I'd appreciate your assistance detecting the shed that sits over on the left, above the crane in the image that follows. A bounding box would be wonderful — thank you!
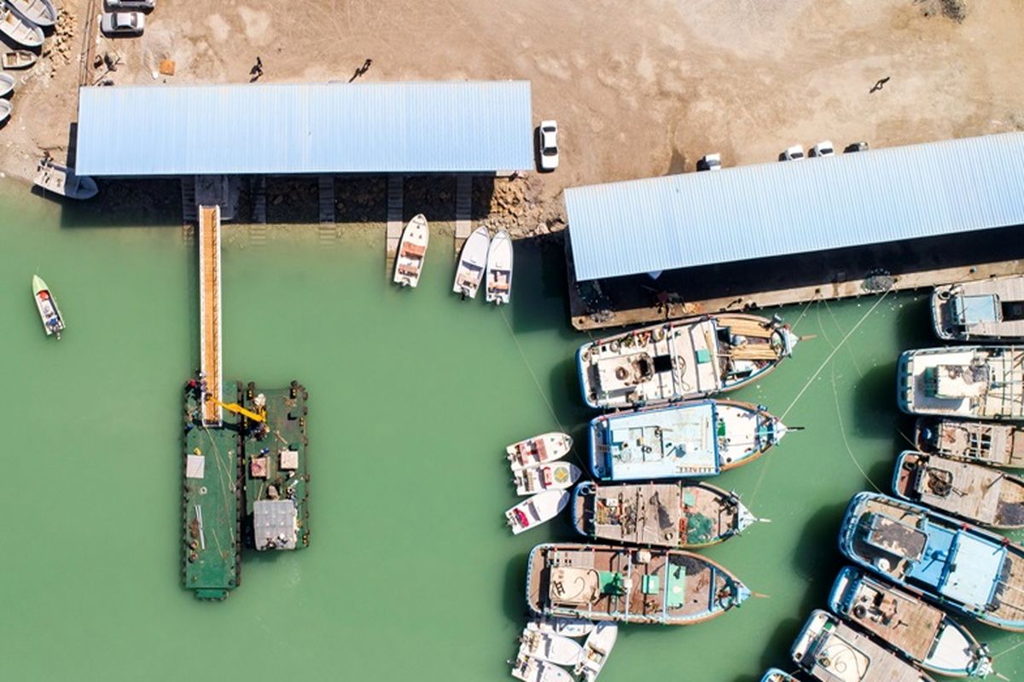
[75,80,534,179]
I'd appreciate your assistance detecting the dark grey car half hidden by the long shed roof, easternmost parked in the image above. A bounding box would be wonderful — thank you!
[852,136,872,153]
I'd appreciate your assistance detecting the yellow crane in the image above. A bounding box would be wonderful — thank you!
[201,392,270,429]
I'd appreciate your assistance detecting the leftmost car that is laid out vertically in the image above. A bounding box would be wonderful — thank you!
[538,117,560,167]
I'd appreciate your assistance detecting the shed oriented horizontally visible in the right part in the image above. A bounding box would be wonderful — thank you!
[563,131,1024,281]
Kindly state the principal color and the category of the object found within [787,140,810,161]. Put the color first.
white car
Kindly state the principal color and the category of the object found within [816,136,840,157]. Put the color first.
white car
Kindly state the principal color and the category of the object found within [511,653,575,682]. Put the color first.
white boat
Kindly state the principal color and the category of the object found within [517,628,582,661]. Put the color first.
white boat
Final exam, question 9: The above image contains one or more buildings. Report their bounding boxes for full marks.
[75,80,534,179]
[563,131,1024,281]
